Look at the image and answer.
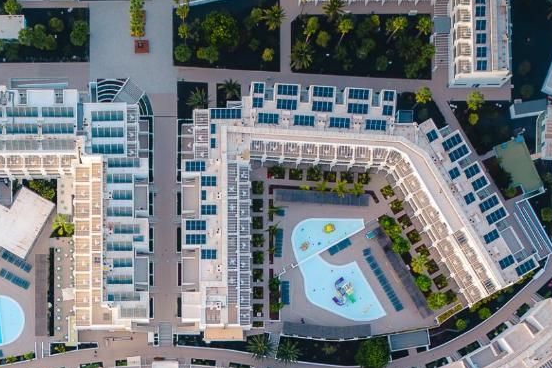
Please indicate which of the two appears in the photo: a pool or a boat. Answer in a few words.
pool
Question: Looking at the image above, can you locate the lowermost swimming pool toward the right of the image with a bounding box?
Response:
[299,255,386,321]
